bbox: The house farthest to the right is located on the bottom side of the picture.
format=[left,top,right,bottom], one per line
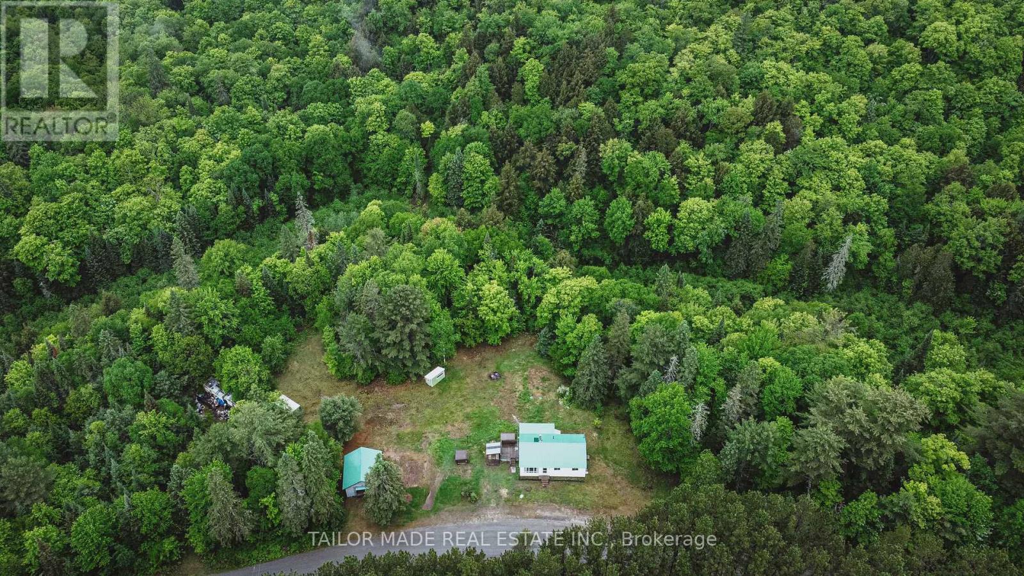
[519,423,587,481]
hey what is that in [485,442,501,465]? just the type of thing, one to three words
shed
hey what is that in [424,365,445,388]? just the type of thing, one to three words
shed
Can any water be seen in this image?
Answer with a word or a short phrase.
No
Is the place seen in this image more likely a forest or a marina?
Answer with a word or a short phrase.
forest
